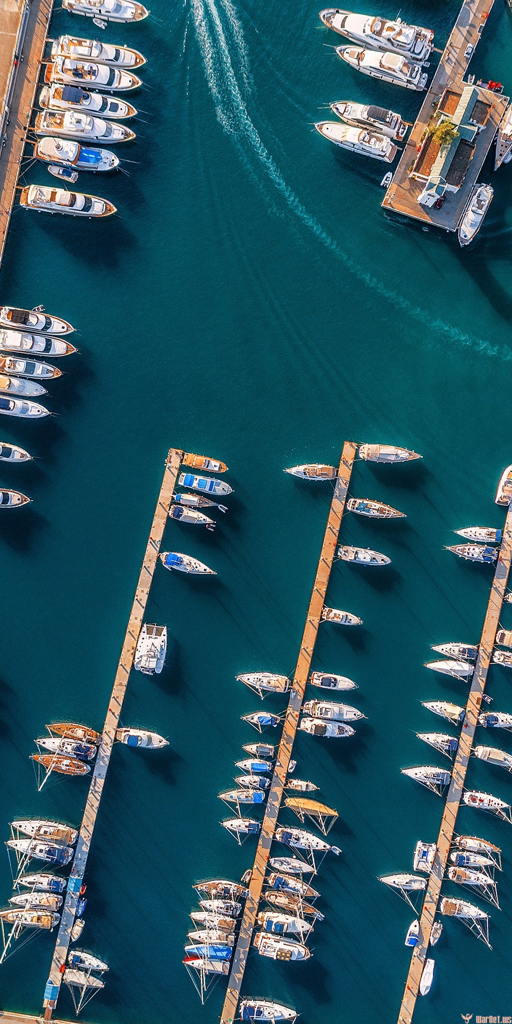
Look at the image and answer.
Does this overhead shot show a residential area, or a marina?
marina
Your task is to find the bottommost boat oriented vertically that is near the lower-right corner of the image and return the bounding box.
[420,958,436,996]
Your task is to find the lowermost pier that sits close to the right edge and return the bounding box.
[396,503,512,1024]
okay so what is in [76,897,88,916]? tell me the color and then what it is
blue boat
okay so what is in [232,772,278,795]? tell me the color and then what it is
white boat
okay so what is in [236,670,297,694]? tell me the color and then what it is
white boat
